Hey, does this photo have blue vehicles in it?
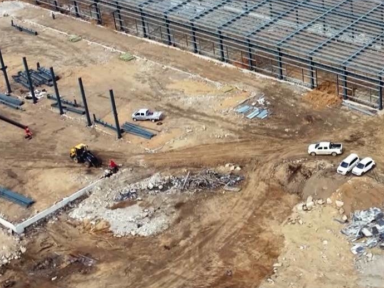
No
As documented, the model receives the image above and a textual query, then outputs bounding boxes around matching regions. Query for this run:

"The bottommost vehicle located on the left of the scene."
[69,143,110,172]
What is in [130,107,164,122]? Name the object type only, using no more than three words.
vehicle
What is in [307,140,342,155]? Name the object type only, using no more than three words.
vehicle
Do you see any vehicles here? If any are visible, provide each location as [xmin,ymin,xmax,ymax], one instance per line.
[130,107,164,122]
[353,155,377,176]
[339,153,363,175]
[69,143,110,172]
[307,140,342,155]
